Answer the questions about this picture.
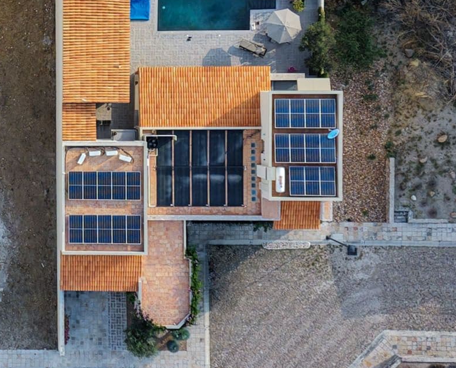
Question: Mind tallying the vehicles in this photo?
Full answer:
There are no vehicles in this view.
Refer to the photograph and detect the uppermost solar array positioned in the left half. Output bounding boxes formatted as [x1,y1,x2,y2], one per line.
[69,172,141,199]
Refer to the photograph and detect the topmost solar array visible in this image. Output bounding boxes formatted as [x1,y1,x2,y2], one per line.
[274,99,335,128]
